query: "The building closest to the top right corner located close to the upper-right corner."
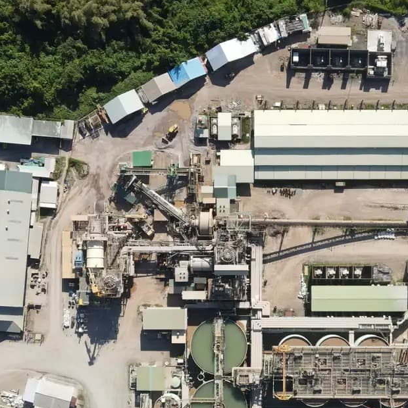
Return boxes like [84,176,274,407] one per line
[366,31,393,52]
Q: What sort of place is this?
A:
industrial area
